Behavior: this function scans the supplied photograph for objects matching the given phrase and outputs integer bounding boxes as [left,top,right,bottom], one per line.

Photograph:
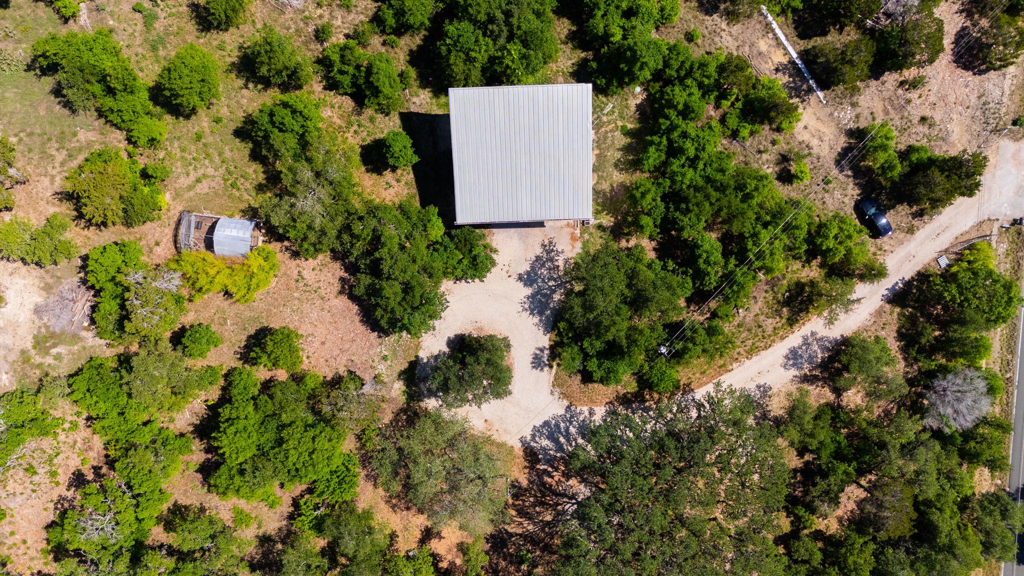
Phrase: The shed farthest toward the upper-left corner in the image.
[181,214,269,259]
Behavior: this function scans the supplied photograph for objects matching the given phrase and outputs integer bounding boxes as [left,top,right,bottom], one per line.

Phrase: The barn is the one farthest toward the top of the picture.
[448,82,595,226]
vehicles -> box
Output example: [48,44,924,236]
[858,197,893,240]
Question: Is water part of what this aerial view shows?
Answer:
No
